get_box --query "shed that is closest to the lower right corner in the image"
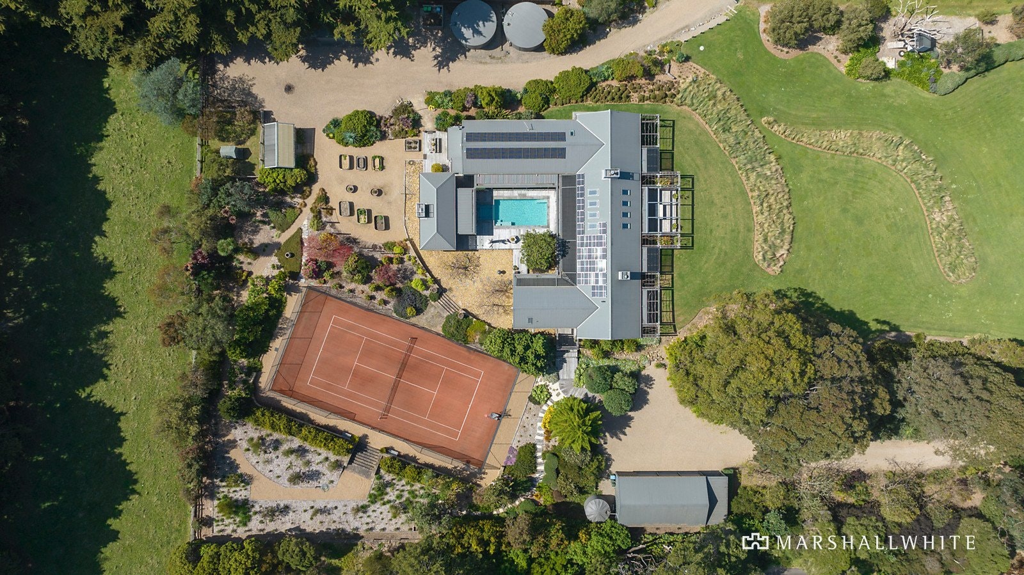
[615,471,728,527]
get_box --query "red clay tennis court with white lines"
[270,289,518,467]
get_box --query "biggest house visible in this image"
[448,107,642,350]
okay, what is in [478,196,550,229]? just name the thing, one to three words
swimming pool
